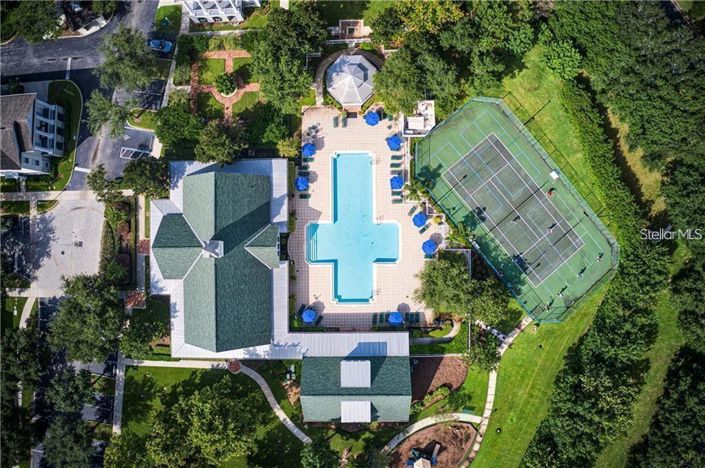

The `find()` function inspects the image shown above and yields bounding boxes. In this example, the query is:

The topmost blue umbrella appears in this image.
[364,111,379,126]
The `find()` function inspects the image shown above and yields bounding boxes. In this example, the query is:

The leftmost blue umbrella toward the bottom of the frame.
[301,308,317,323]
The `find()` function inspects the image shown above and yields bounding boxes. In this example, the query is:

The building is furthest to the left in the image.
[0,92,67,181]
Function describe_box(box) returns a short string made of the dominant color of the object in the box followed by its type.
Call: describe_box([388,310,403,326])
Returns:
blue umbrella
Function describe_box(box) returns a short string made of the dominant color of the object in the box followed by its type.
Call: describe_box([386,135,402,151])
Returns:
blue umbrella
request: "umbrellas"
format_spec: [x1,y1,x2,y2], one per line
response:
[389,175,404,191]
[421,239,437,255]
[412,212,428,228]
[302,142,317,158]
[386,135,402,151]
[388,310,403,326]
[301,308,317,323]
[294,176,310,192]
[364,111,379,126]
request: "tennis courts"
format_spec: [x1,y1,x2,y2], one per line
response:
[414,103,611,319]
